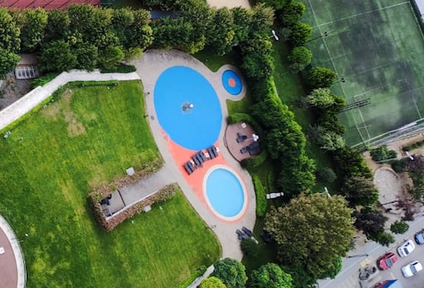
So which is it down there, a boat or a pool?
pool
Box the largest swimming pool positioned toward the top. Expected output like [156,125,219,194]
[153,66,223,150]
